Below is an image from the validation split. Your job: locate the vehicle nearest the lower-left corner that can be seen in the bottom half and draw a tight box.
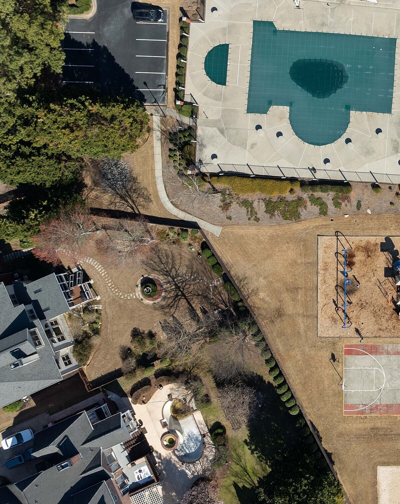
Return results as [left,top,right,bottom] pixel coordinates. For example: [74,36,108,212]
[1,449,35,471]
